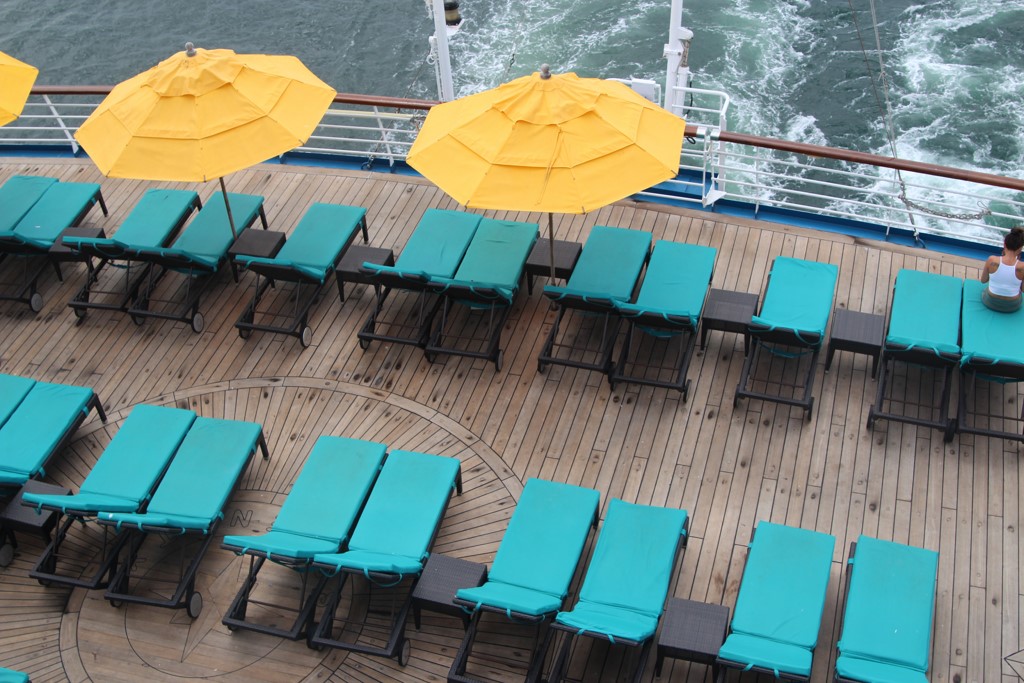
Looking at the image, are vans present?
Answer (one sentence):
No, I can't see a single van in this photo.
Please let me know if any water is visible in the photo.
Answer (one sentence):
Yes, there's water in this view.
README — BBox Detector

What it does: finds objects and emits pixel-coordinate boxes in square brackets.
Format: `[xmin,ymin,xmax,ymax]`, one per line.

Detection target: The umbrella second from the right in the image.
[69,42,341,272]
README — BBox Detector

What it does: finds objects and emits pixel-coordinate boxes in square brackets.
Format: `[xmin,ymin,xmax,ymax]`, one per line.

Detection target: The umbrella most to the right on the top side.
[406,67,686,312]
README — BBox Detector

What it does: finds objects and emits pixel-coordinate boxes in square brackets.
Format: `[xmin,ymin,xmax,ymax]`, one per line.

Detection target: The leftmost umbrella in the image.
[0,49,37,123]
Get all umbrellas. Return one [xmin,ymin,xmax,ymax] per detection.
[406,67,686,312]
[69,42,341,272]
[0,49,37,123]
